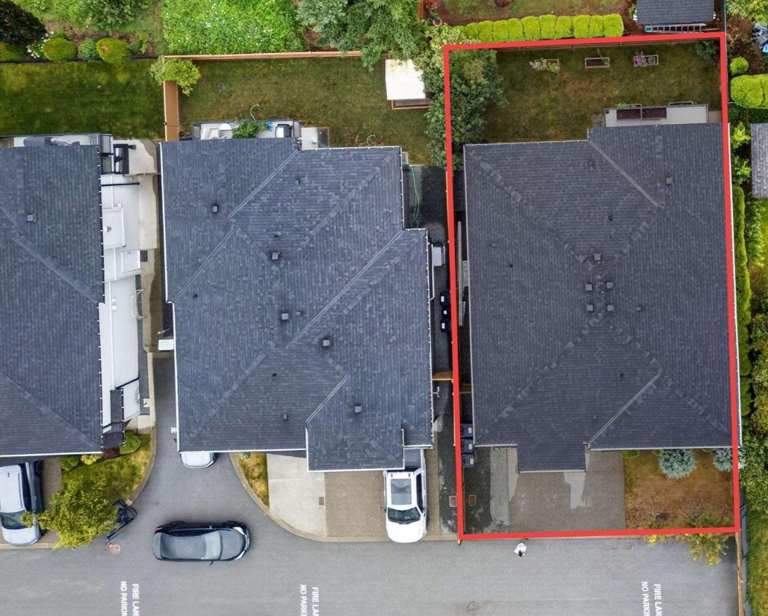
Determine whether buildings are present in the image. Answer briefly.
Yes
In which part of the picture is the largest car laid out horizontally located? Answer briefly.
bottom left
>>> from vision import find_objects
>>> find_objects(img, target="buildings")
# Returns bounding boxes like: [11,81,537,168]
[462,123,738,473]
[0,146,148,457]
[158,138,439,473]
[752,123,768,198]
[636,0,717,26]
[384,58,431,108]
